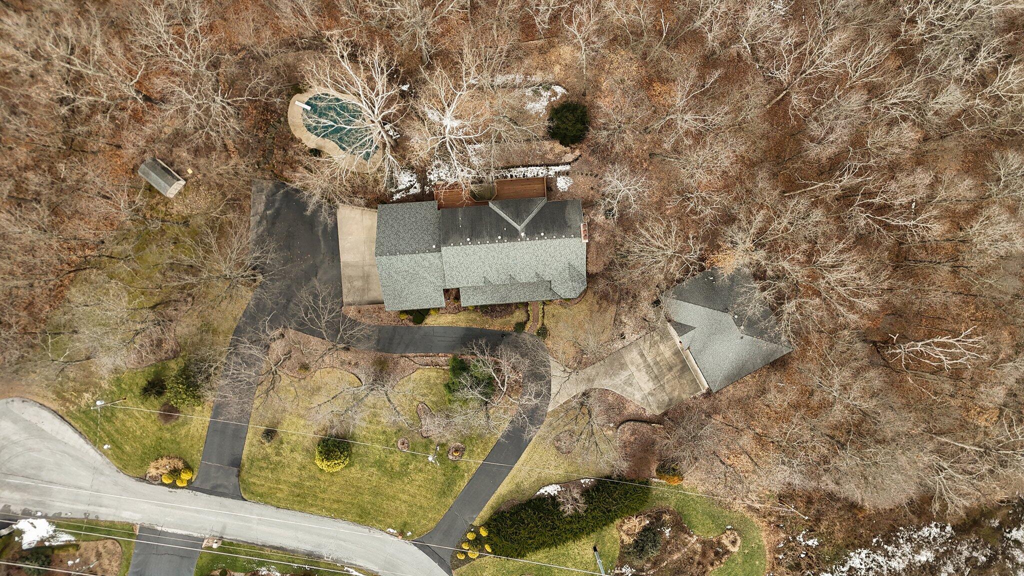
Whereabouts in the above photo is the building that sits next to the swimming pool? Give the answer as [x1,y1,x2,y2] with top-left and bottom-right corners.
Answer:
[376,197,588,311]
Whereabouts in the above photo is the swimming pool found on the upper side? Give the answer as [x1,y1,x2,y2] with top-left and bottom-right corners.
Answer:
[288,88,384,174]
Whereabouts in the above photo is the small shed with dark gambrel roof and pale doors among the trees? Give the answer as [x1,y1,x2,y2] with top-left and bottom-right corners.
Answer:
[133,154,185,197]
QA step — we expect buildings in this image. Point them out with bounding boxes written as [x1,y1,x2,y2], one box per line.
[376,197,588,311]
[655,256,793,393]
[133,154,185,197]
